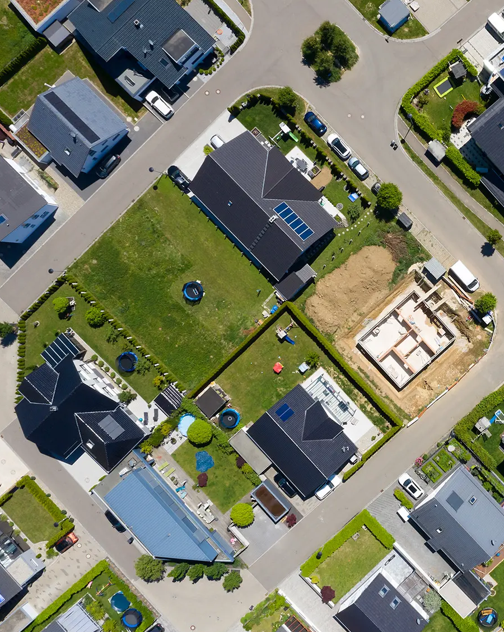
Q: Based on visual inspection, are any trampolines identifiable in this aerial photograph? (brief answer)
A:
Yes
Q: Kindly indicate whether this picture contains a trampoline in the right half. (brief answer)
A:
Yes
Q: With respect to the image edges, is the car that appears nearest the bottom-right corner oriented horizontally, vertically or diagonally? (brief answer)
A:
diagonally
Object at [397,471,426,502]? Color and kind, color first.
white car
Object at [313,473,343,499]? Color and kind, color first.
white car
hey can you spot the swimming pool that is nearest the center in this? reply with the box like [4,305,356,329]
[176,415,196,436]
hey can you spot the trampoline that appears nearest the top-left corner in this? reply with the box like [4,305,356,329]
[182,281,203,302]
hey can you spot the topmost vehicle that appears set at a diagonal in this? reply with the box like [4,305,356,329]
[485,8,504,39]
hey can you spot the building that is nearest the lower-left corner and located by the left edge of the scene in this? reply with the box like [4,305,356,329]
[0,595,45,632]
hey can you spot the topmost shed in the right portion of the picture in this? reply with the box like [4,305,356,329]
[379,0,411,31]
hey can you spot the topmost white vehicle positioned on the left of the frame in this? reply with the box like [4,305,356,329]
[144,89,175,121]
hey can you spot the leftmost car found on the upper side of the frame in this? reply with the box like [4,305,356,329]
[96,152,124,180]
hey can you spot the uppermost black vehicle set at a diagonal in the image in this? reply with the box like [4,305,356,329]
[158,83,182,105]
